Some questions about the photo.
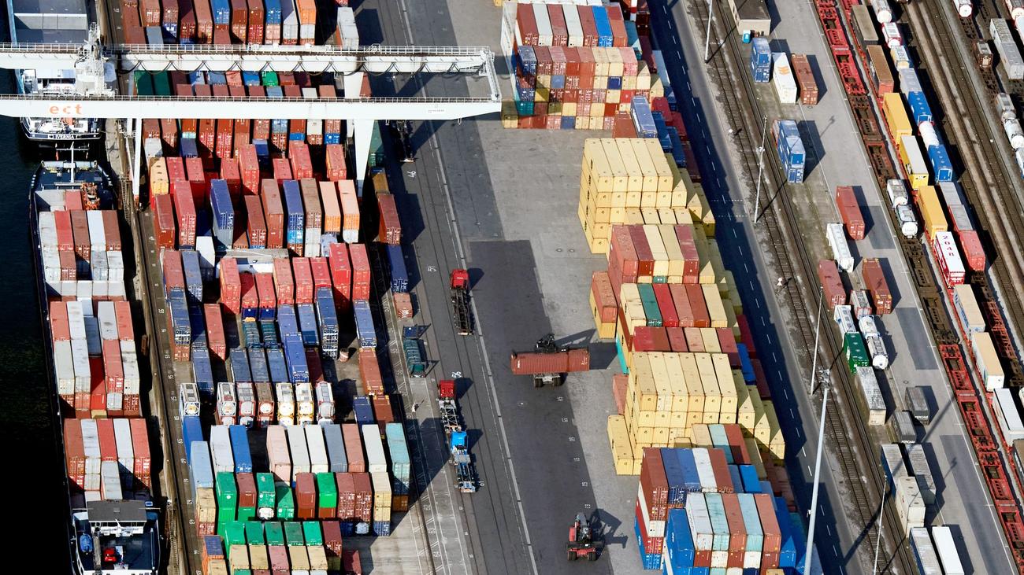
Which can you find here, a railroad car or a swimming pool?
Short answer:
railroad car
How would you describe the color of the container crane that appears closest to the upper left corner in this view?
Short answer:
white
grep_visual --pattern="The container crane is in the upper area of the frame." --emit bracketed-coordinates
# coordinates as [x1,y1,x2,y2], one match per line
[0,0,502,205]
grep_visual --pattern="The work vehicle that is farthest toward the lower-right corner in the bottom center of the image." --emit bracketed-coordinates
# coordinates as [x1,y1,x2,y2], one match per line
[562,510,606,558]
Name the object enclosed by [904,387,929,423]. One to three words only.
shipping container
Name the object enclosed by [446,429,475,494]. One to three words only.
truck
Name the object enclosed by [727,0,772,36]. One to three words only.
building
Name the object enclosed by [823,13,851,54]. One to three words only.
rail car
